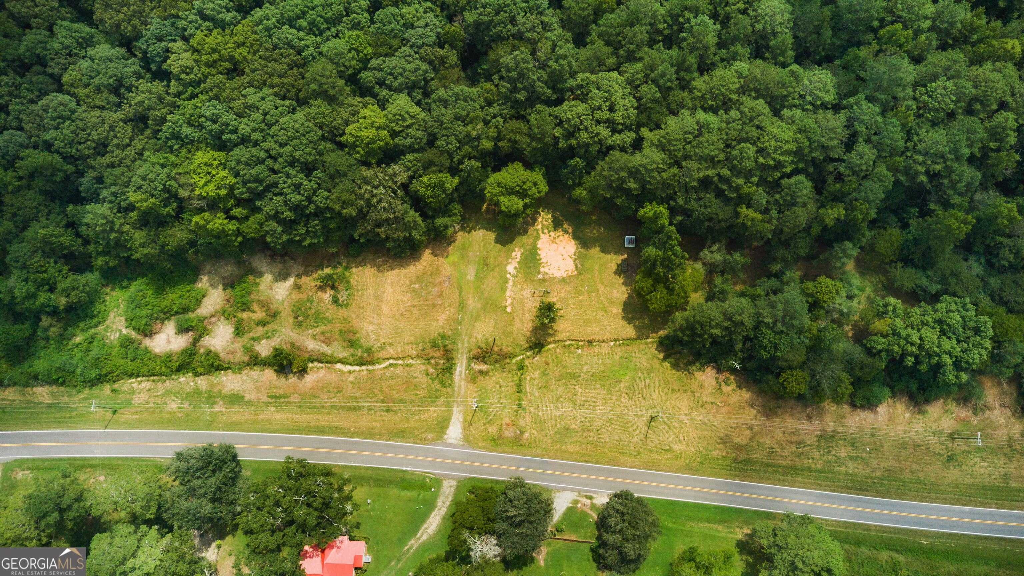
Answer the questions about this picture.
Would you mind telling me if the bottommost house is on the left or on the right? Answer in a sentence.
The bottommost house appears in the left half of the scene.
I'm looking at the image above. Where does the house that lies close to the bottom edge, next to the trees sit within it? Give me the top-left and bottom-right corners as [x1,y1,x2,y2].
[298,531,373,576]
